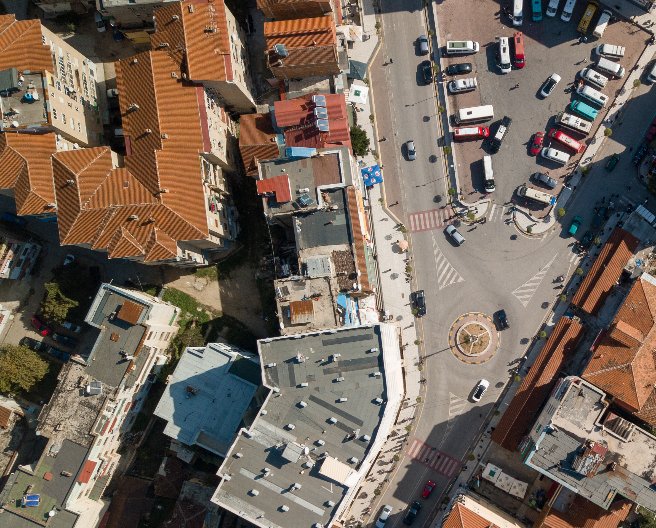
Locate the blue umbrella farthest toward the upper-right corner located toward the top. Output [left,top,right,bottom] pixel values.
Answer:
[360,165,384,187]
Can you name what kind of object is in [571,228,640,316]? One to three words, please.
building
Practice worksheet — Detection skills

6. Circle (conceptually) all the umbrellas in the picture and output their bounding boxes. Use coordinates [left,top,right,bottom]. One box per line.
[359,306,379,325]
[336,26,347,34]
[346,25,363,44]
[347,84,370,105]
[509,480,529,500]
[359,294,375,310]
[346,59,369,82]
[480,461,500,482]
[494,470,516,493]
[360,165,384,187]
